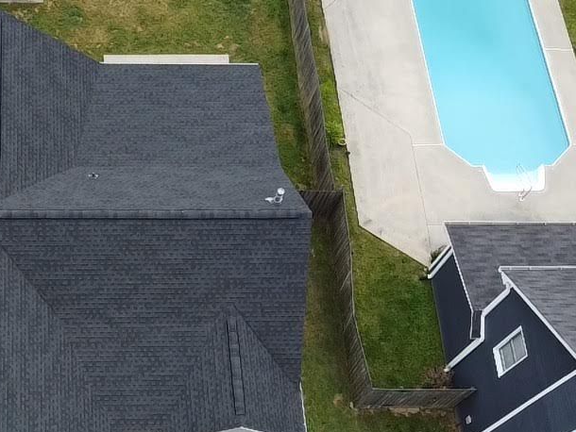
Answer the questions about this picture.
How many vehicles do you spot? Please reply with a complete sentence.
There are no vehicles in the image.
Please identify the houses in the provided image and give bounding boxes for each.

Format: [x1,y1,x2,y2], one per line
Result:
[428,220,576,432]
[0,15,309,432]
